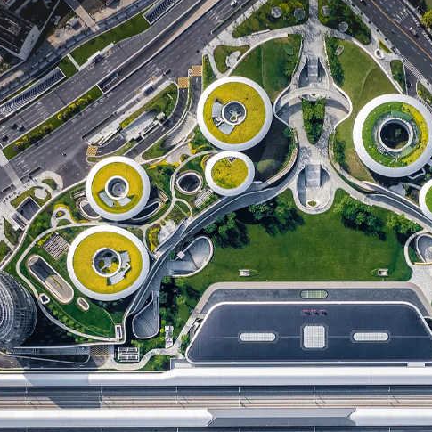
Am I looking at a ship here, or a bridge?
bridge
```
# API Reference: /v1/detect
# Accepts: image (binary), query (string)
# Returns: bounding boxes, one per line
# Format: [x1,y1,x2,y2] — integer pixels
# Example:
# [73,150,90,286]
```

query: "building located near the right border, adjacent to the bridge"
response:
[353,94,432,178]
